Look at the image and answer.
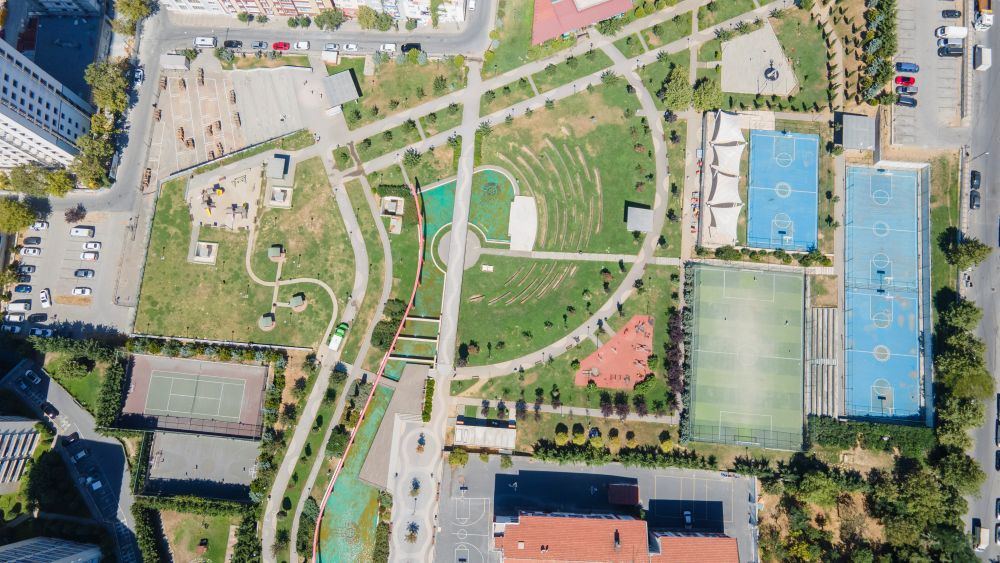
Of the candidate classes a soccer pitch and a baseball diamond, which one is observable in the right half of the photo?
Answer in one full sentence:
The feature located in the right half of the photo is a soccer pitch.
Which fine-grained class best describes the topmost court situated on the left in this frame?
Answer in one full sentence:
Specifically, the topmost court situated on the left is a tennis court.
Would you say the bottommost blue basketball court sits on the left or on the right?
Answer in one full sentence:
It is on the right.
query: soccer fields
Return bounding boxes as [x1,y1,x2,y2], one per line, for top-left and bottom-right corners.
[688,265,806,449]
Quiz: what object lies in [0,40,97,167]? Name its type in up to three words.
building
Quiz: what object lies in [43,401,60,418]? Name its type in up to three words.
car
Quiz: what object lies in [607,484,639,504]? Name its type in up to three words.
shed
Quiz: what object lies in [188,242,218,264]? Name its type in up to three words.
building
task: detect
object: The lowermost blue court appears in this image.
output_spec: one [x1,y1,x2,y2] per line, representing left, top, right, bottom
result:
[846,287,920,417]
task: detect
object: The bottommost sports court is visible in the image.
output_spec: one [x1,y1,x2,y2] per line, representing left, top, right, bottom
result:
[144,433,261,502]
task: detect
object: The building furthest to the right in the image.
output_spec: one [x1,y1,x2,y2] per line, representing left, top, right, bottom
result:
[838,115,875,154]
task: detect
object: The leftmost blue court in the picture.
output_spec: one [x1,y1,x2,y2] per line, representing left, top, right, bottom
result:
[747,131,820,251]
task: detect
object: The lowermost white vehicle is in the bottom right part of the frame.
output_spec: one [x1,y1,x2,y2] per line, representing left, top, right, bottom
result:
[973,525,990,550]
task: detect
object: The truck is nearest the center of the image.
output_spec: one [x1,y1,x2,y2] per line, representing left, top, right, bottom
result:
[331,322,354,351]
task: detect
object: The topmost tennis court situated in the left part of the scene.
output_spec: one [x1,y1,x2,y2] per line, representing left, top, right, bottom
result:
[120,354,268,439]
